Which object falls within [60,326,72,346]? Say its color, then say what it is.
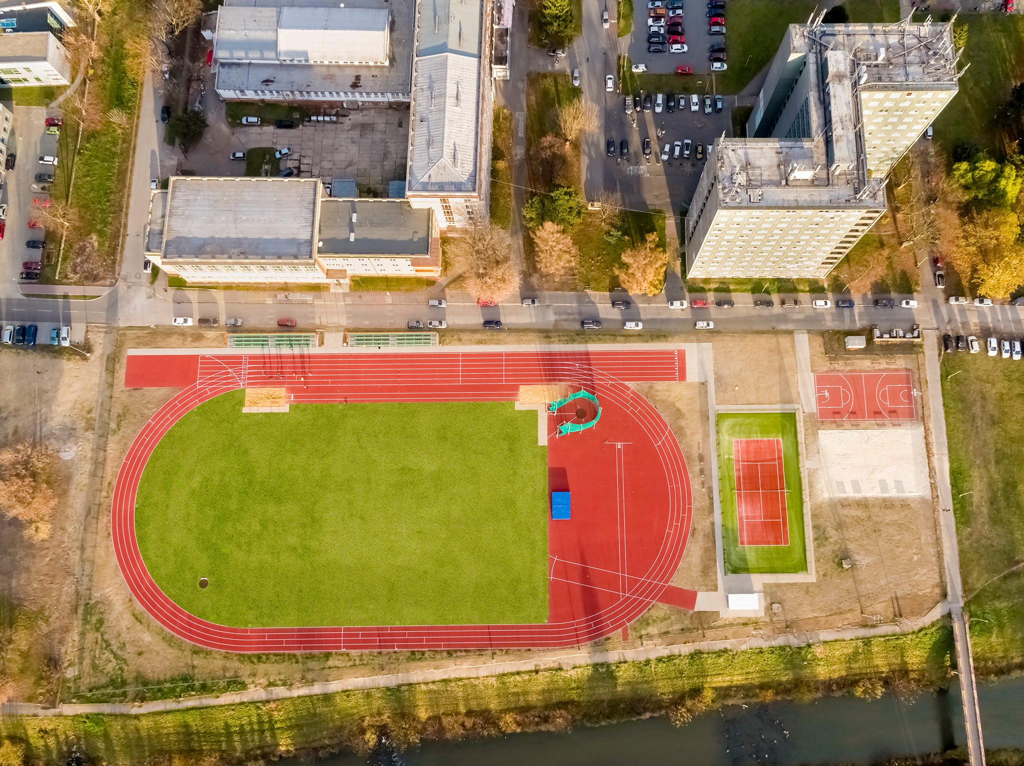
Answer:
white vehicle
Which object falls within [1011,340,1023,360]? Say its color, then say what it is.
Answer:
white vehicle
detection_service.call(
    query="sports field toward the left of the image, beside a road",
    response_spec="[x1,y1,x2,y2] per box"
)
[134,388,549,628]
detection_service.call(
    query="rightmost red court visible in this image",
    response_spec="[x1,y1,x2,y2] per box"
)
[814,368,918,422]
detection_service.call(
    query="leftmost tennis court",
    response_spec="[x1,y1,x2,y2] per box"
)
[718,412,807,574]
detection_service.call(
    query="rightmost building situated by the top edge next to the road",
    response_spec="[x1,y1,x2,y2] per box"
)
[683,23,960,282]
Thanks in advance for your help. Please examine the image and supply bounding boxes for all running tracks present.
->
[111,349,697,652]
